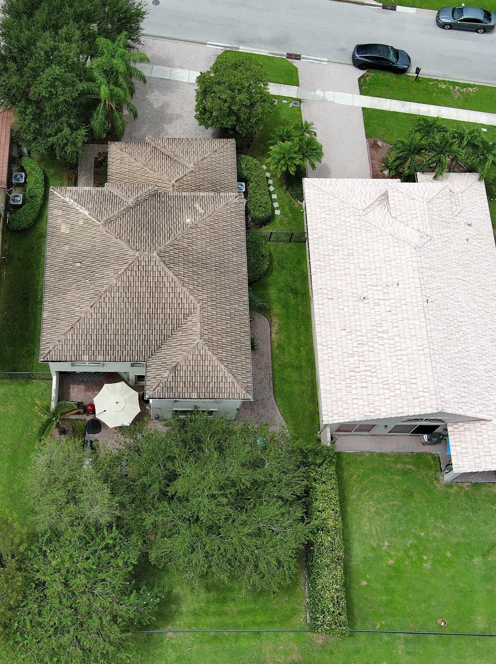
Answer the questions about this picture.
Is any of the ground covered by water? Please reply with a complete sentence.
No, there's no water in this view.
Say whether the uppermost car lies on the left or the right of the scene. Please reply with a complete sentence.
It is on the right.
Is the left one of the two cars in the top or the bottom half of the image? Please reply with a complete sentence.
The left one of the two cars is in the top half of the image.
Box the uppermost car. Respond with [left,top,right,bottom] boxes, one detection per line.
[439,4,496,35]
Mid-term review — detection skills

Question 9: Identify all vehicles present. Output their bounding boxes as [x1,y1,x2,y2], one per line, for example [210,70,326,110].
[354,43,413,73]
[439,4,496,35]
